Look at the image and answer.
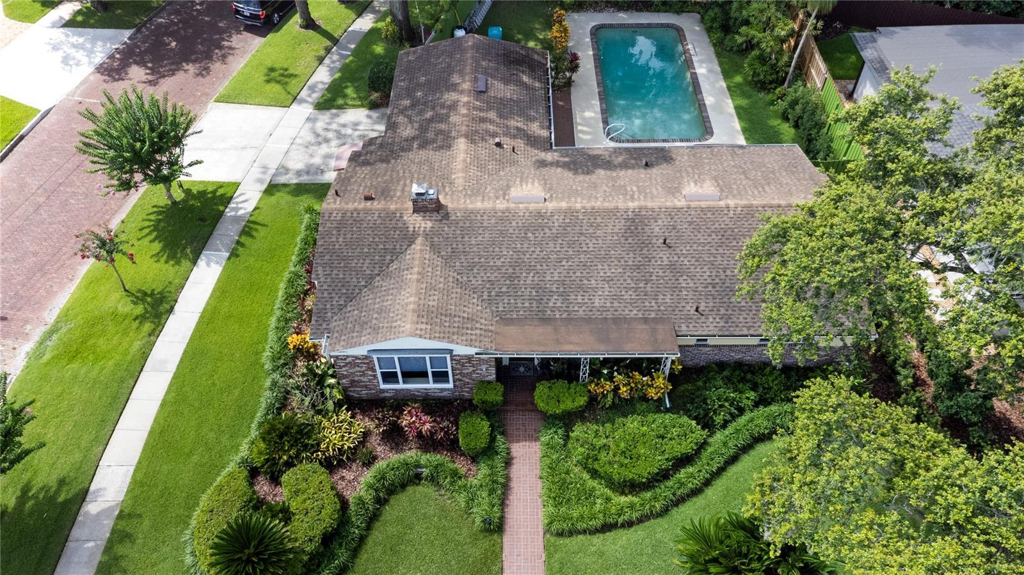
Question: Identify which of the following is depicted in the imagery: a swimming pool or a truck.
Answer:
swimming pool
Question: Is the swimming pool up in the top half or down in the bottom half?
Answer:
top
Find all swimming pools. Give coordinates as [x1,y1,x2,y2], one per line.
[591,23,714,141]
